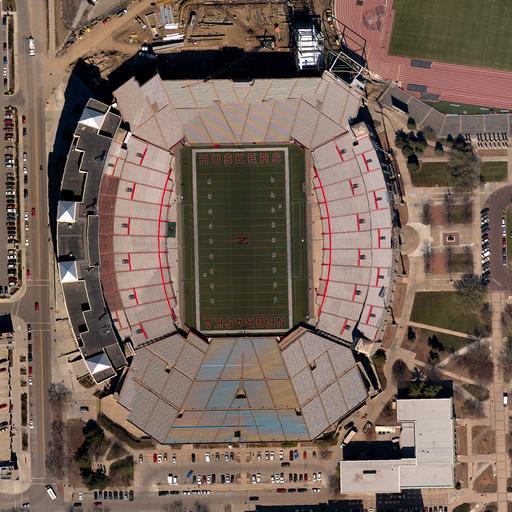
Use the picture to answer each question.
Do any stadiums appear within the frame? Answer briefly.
Yes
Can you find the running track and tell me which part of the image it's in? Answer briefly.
top right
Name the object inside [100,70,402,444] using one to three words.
stadium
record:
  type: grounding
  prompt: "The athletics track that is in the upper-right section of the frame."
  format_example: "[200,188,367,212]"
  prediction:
[334,0,512,106]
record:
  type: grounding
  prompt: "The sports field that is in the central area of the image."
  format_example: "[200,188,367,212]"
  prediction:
[166,142,322,340]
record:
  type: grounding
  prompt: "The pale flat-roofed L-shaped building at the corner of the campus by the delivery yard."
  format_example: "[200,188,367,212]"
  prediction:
[340,398,456,494]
